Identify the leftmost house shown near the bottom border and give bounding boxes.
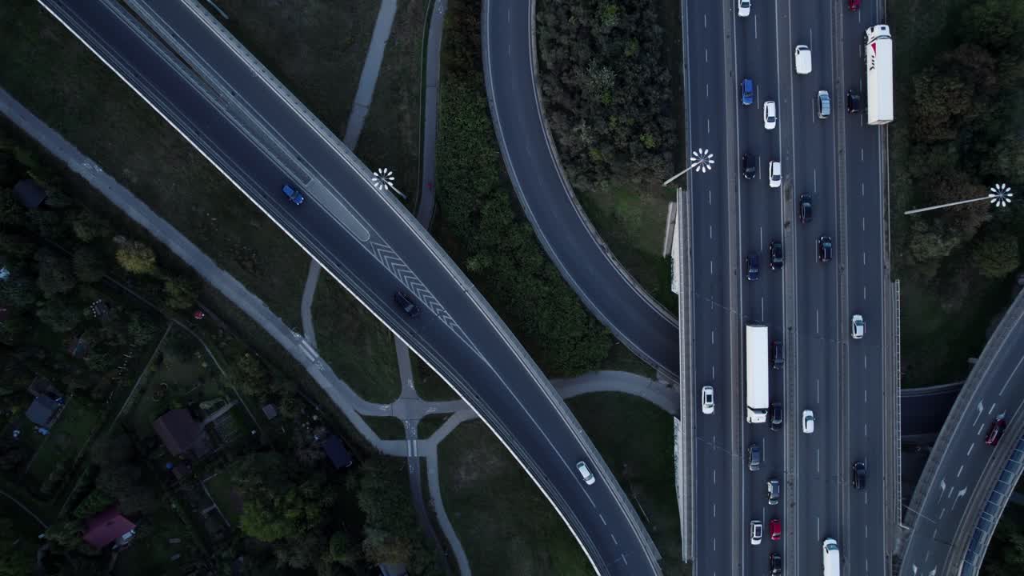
[86,500,143,550]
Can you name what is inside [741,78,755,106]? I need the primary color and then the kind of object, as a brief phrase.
blue car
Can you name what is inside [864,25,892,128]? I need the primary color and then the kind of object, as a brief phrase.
white truck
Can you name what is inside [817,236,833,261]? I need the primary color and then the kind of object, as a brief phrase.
black car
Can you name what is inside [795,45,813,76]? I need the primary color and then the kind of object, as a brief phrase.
white vehicle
